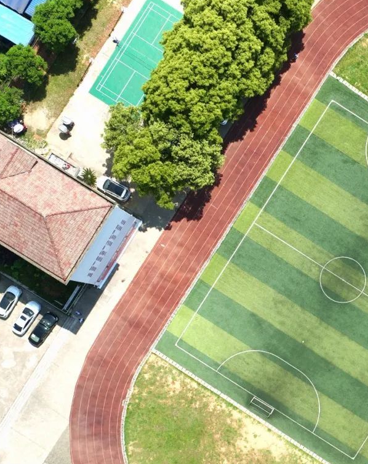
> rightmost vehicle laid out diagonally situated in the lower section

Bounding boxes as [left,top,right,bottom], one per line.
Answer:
[28,310,58,346]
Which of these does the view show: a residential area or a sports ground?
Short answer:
sports ground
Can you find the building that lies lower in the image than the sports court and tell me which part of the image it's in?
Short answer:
left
